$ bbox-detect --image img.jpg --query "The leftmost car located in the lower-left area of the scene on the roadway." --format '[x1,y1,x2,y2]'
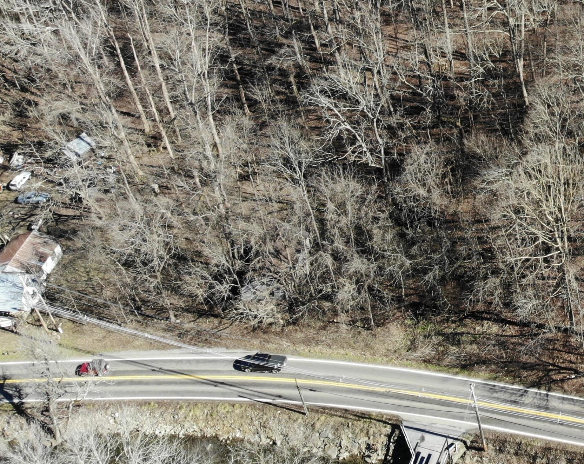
[77,356,108,376]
